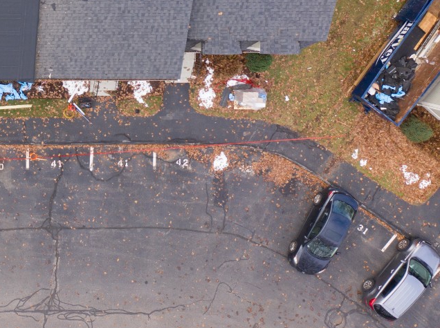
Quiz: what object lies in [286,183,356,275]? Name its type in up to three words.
car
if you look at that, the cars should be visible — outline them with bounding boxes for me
[286,183,356,275]
[356,232,439,325]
